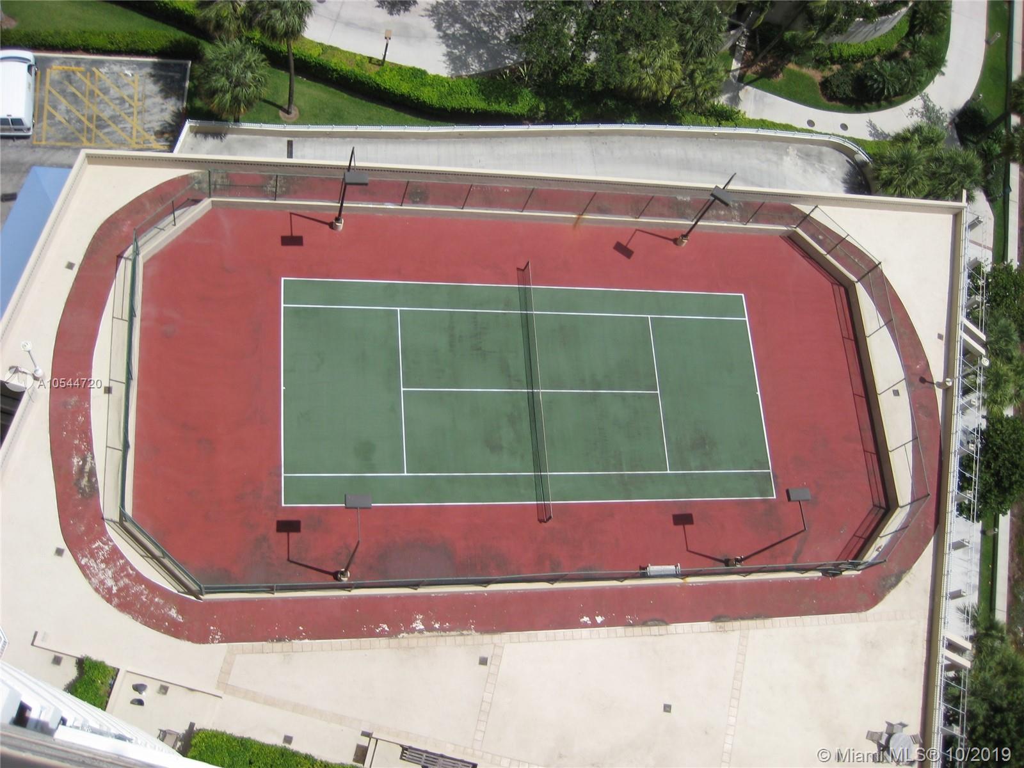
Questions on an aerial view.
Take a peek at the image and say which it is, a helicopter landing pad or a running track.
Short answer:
running track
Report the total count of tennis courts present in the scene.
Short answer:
1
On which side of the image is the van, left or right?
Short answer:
left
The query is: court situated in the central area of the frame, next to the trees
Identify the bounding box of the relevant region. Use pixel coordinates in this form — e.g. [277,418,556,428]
[134,208,889,592]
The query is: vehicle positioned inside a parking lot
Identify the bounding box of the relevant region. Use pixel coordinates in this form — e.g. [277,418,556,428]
[0,48,39,140]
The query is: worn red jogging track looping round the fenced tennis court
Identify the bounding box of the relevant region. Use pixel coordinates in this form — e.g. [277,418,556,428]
[50,170,942,642]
